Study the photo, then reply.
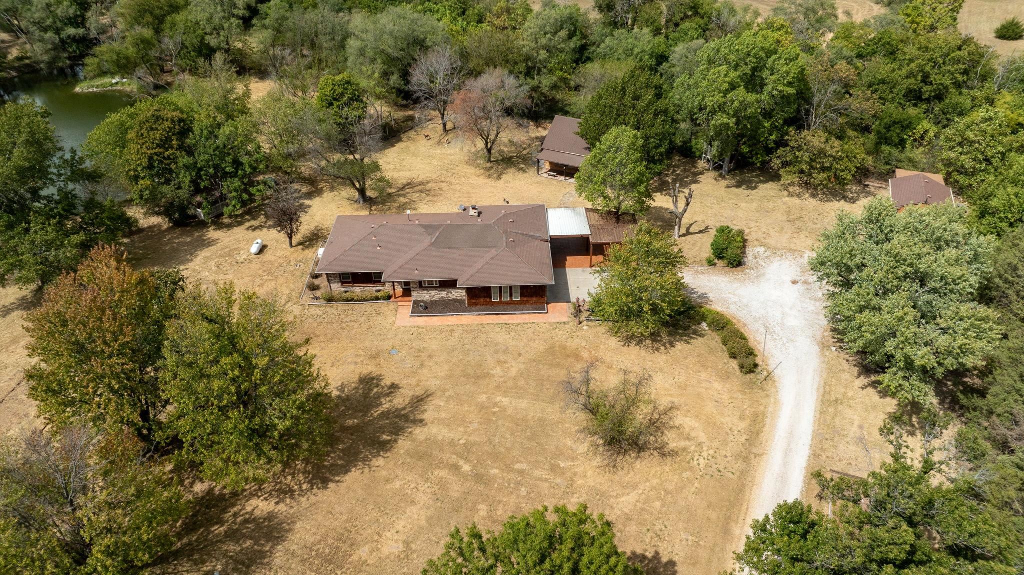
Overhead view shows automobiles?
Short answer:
No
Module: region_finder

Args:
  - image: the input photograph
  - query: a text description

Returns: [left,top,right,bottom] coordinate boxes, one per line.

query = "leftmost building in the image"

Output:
[315,199,555,306]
